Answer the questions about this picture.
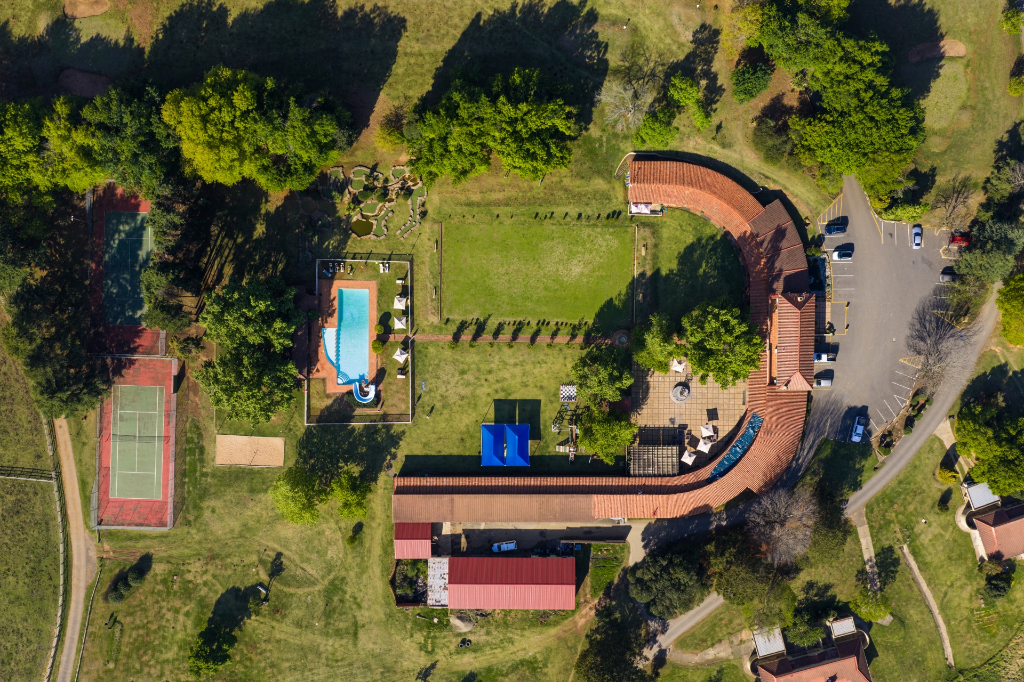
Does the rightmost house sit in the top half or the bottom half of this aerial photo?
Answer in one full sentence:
The rightmost house is in the bottom half of the image.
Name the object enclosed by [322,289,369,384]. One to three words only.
swimming pool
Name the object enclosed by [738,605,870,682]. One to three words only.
house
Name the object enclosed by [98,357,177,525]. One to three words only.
tennis court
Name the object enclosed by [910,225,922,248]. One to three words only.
vehicle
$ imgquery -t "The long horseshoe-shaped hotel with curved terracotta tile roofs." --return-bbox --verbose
[393,161,816,522]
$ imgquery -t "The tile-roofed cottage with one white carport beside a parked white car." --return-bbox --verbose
[948,472,1024,559]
